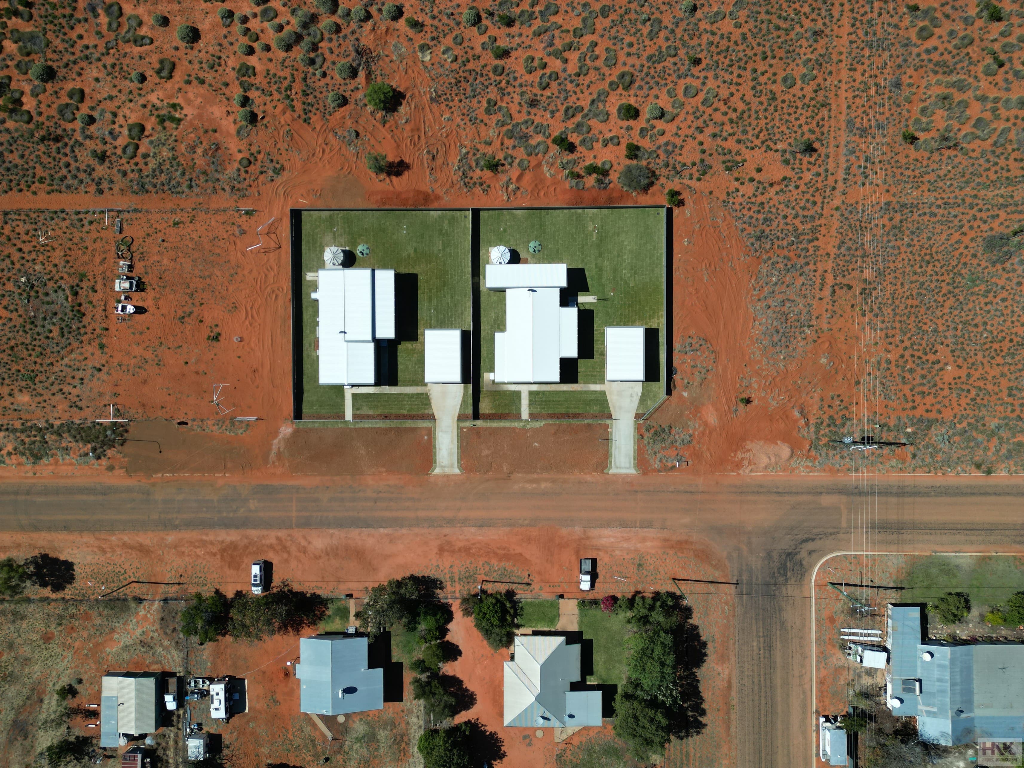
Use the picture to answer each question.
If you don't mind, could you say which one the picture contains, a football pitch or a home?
home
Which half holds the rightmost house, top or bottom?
bottom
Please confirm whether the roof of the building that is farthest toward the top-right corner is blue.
No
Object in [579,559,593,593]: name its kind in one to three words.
vehicle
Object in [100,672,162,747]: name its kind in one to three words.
house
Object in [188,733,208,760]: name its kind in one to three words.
shed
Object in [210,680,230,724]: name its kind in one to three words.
camper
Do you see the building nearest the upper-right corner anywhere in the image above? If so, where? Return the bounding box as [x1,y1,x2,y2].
[606,326,645,381]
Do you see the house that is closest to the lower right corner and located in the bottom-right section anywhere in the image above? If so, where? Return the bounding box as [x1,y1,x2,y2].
[882,604,1024,746]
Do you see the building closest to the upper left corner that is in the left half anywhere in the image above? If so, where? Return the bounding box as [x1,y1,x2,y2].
[311,268,400,388]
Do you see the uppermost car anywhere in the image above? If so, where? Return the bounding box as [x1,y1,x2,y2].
[113,278,137,291]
